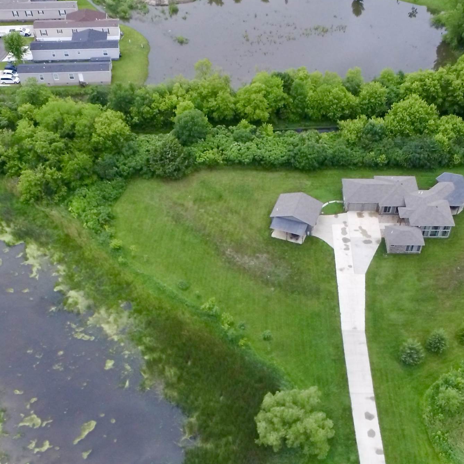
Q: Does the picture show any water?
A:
Yes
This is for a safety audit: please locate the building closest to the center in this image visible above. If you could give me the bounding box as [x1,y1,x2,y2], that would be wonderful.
[269,192,324,244]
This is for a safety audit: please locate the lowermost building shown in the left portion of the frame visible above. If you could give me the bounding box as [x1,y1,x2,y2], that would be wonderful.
[18,57,111,84]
